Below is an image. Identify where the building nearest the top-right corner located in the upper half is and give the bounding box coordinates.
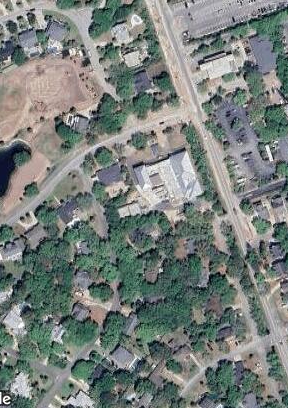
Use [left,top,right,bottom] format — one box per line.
[248,36,279,74]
